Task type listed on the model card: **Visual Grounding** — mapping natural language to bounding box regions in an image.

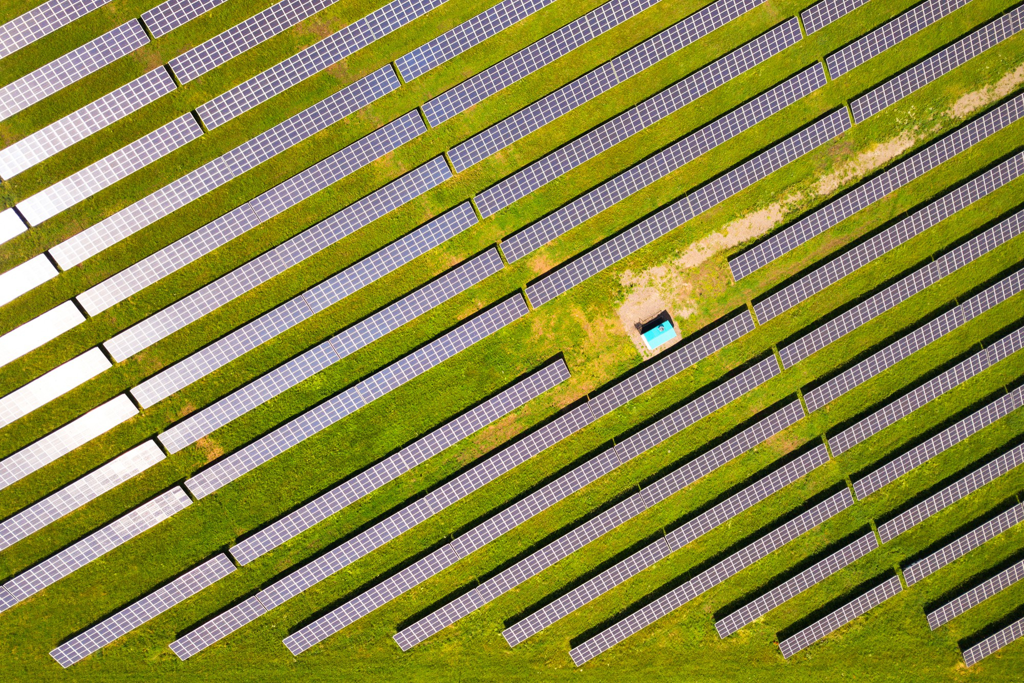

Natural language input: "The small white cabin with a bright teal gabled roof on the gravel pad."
[640,321,676,349]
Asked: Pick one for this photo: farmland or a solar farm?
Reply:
solar farm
